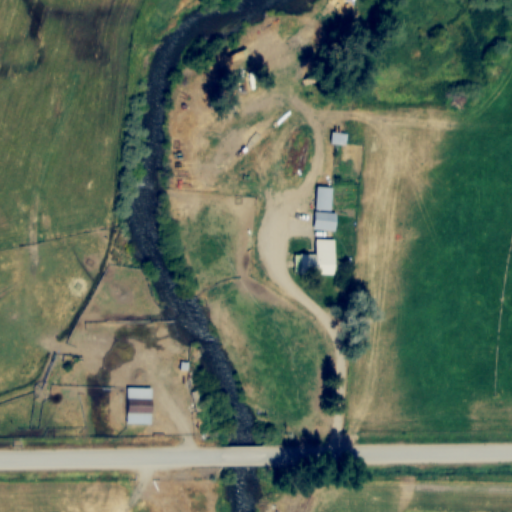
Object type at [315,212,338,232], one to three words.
shed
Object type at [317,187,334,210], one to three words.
shed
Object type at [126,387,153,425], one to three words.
barn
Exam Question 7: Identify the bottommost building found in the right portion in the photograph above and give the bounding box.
[296,240,338,275]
